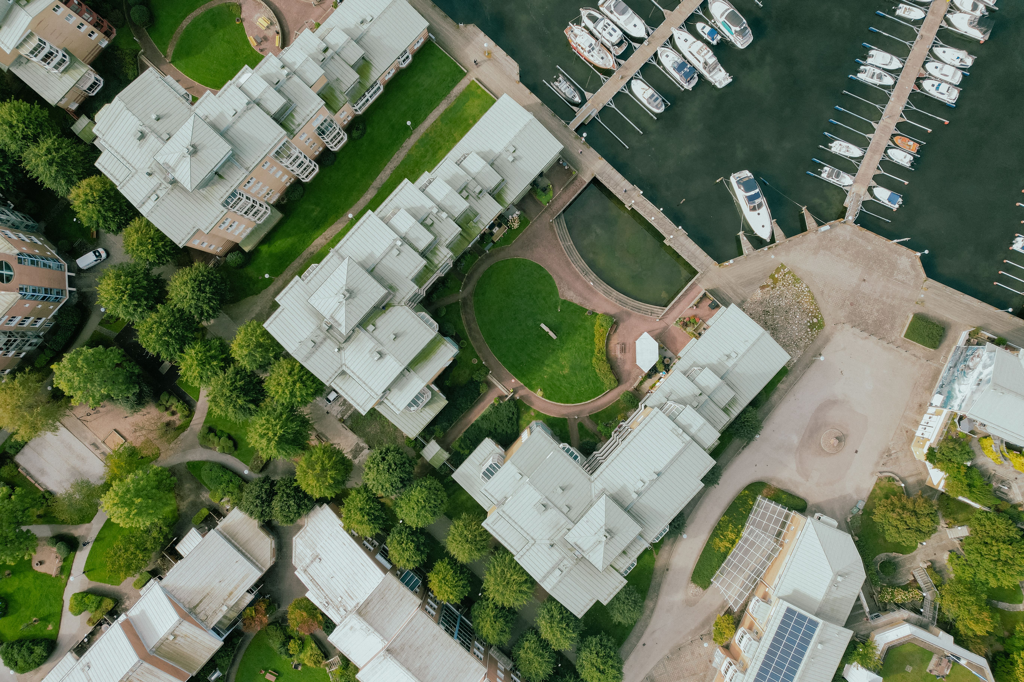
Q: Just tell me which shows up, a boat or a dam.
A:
boat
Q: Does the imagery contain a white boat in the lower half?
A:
No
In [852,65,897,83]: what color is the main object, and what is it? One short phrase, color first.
white boat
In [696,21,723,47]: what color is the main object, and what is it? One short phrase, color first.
white boat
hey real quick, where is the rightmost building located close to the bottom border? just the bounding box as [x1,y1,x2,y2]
[866,620,996,682]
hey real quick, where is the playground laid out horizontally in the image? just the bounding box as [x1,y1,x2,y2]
[70,399,179,447]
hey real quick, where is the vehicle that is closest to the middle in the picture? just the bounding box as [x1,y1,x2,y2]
[321,388,344,407]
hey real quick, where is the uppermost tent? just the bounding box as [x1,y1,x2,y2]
[632,332,659,373]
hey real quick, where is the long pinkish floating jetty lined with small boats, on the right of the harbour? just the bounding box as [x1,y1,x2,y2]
[843,0,951,206]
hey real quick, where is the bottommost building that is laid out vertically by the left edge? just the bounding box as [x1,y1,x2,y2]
[0,216,76,377]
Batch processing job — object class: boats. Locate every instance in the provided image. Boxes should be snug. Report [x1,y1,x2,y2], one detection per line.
[932,45,976,69]
[887,149,919,167]
[582,6,631,59]
[944,12,996,49]
[591,0,649,39]
[921,79,961,104]
[707,0,756,56]
[827,138,866,155]
[852,65,897,83]
[863,50,905,68]
[953,0,991,17]
[549,72,581,103]
[696,21,723,47]
[815,166,856,184]
[657,45,701,98]
[631,78,667,116]
[893,136,924,154]
[672,24,738,96]
[891,4,928,18]
[872,187,906,209]
[1006,236,1024,252]
[561,20,616,71]
[729,166,772,239]
[924,61,964,86]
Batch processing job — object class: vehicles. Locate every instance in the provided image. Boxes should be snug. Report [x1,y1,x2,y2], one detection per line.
[73,247,112,271]
[321,388,344,407]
